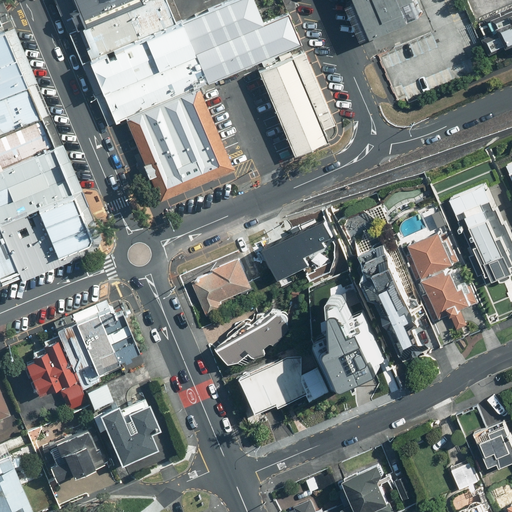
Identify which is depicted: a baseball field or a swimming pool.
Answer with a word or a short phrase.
swimming pool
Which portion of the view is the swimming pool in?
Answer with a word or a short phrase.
right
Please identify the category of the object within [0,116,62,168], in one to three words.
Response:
building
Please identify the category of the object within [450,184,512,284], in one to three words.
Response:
house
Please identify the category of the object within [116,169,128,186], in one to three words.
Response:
vehicle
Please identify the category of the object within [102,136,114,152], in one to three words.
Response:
vehicle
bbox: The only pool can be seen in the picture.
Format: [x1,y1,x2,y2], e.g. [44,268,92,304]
[400,214,426,238]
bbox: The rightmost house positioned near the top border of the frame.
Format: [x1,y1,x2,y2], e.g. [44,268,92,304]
[478,11,512,56]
